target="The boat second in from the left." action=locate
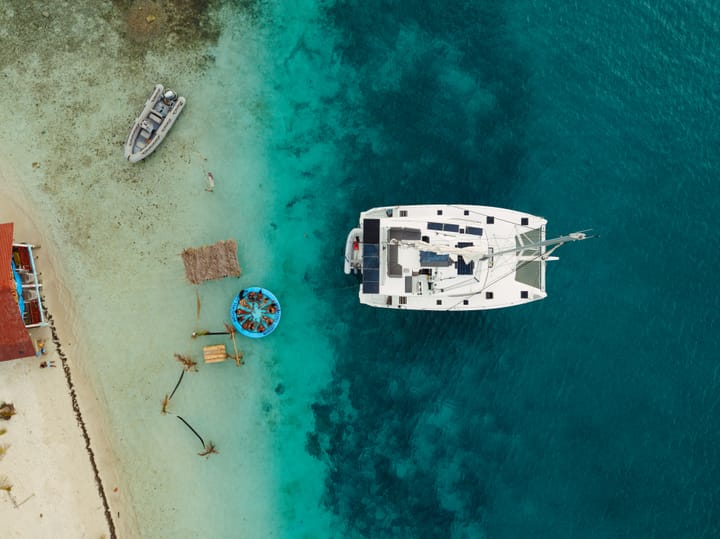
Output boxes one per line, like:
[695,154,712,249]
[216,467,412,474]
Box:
[345,226,366,276]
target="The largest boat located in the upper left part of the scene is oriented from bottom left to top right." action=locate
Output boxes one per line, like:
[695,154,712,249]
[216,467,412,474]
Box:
[125,82,186,169]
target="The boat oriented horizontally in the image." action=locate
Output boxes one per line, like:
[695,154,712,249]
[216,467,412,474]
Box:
[361,205,602,311]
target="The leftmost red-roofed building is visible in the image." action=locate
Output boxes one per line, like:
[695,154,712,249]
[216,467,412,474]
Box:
[0,222,56,360]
